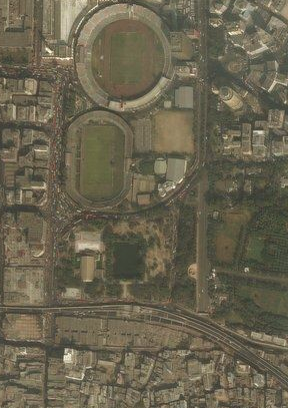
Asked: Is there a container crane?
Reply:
No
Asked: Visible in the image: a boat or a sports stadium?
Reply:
sports stadium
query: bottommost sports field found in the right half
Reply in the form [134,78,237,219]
[151,109,195,155]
